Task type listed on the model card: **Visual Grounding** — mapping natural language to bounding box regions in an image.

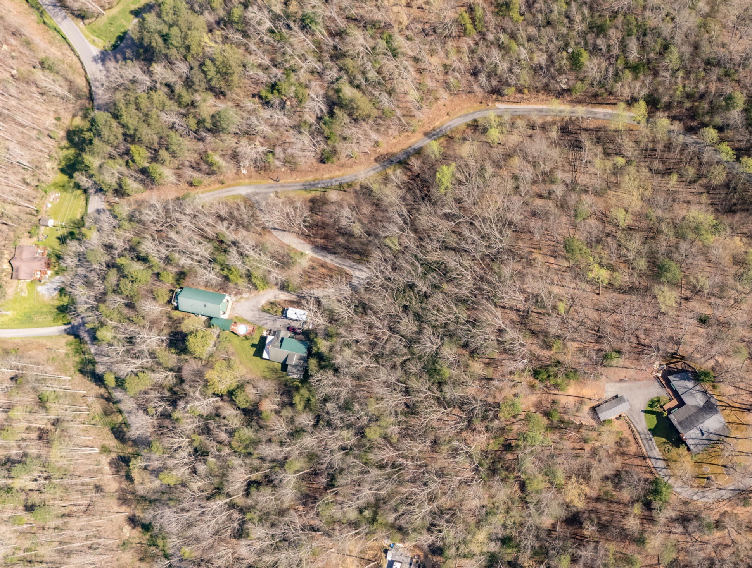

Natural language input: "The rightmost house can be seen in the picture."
[658,362,730,453]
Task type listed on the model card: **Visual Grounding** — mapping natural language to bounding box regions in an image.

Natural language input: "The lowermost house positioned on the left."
[262,329,310,379]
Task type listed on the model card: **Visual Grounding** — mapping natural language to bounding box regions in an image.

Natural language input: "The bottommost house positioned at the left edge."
[11,245,57,282]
